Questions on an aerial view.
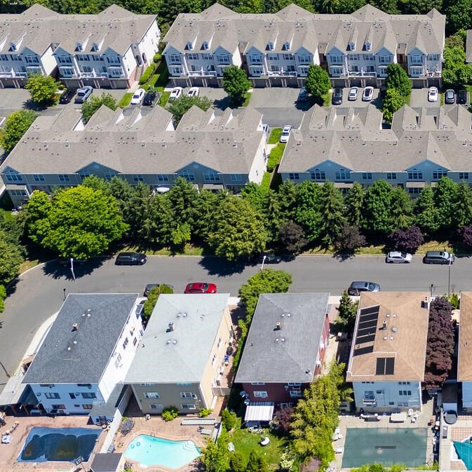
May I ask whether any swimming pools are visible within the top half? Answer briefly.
No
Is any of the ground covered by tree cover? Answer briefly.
Yes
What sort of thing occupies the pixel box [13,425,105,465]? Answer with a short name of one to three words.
swimming pool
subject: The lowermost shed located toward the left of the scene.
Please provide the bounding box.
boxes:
[91,451,128,472]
